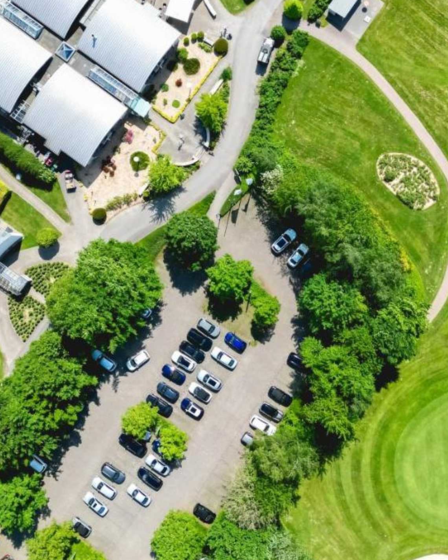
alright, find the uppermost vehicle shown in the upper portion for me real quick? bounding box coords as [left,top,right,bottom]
[257,36,274,63]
